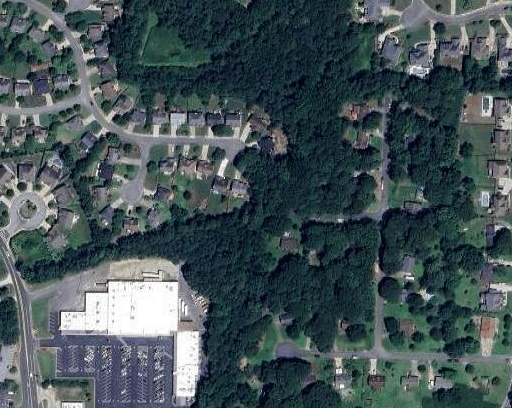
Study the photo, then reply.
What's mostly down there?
trees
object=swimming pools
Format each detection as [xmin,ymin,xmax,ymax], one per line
[482,191,490,205]
[483,96,492,114]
